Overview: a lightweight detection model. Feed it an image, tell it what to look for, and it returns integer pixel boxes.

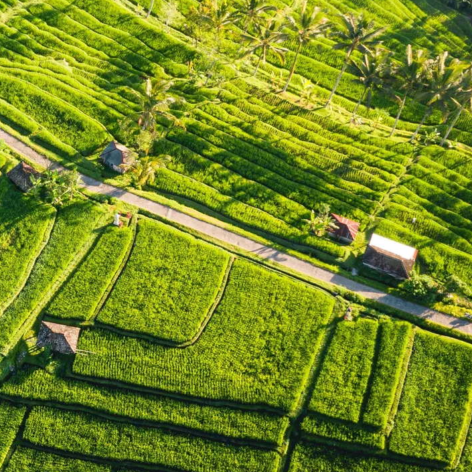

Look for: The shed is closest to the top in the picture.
[100,143,134,178]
